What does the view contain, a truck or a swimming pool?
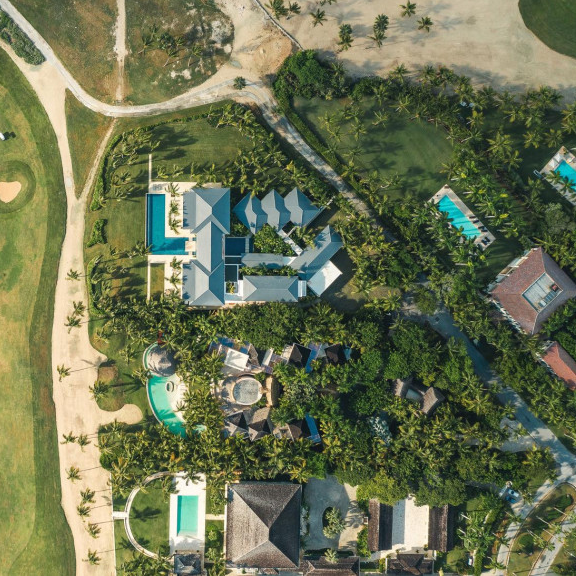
swimming pool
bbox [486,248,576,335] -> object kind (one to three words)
house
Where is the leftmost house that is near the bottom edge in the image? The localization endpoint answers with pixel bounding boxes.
[223,477,360,576]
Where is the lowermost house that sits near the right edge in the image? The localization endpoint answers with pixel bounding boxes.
[537,342,576,391]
